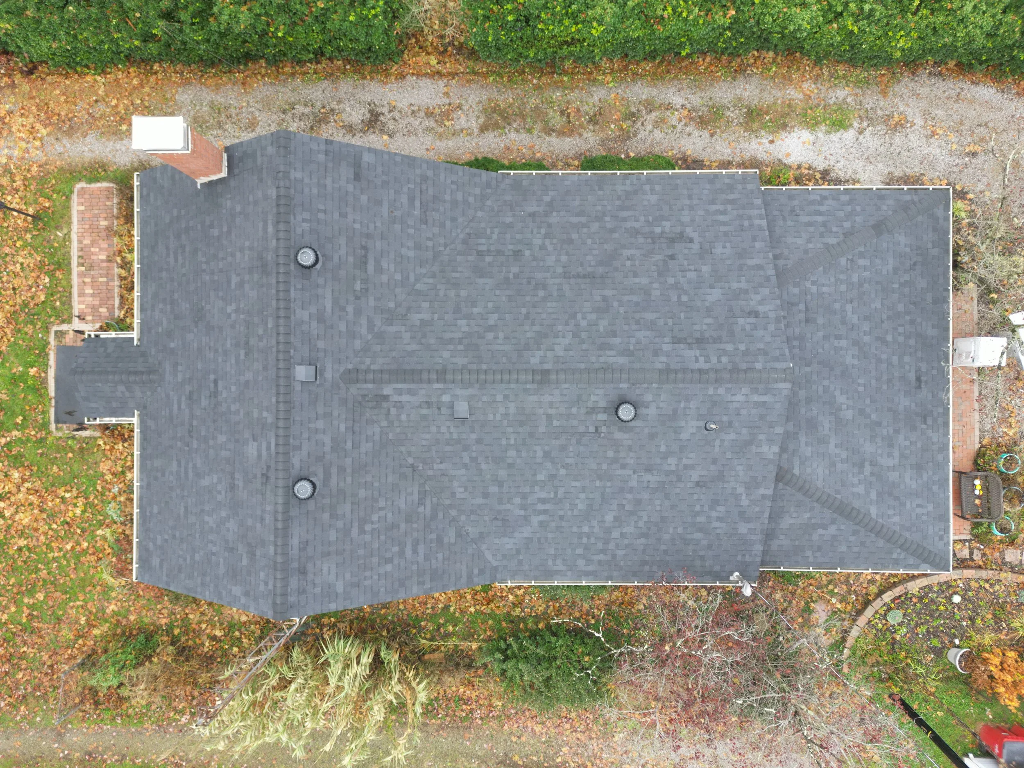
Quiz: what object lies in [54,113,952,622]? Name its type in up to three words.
house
